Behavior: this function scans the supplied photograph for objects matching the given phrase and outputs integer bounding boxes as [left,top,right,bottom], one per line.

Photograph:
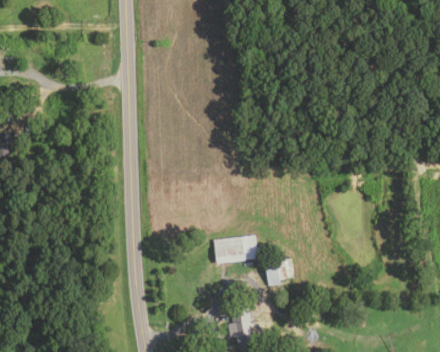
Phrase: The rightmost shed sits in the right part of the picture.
[268,259,295,288]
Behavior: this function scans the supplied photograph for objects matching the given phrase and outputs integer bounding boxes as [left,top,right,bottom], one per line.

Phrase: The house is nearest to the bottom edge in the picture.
[228,310,252,339]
